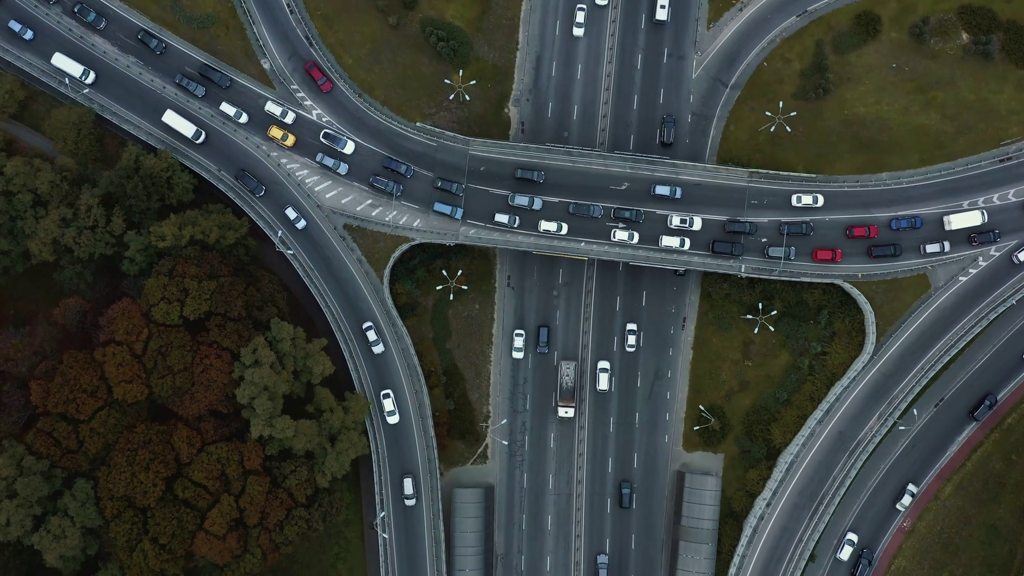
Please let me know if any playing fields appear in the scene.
No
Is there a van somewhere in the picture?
Yes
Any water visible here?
No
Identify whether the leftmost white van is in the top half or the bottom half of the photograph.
top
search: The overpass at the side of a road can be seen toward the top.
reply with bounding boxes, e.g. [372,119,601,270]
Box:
[460,136,749,278]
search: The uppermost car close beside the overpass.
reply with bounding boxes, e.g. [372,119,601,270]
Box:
[660,114,676,146]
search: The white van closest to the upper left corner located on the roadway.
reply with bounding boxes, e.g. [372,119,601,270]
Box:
[49,51,99,86]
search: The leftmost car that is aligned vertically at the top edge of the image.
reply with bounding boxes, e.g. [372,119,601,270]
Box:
[572,5,586,37]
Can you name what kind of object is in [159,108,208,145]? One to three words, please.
van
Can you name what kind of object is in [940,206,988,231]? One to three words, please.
truck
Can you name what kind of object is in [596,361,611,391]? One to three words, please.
car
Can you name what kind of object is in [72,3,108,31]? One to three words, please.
car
